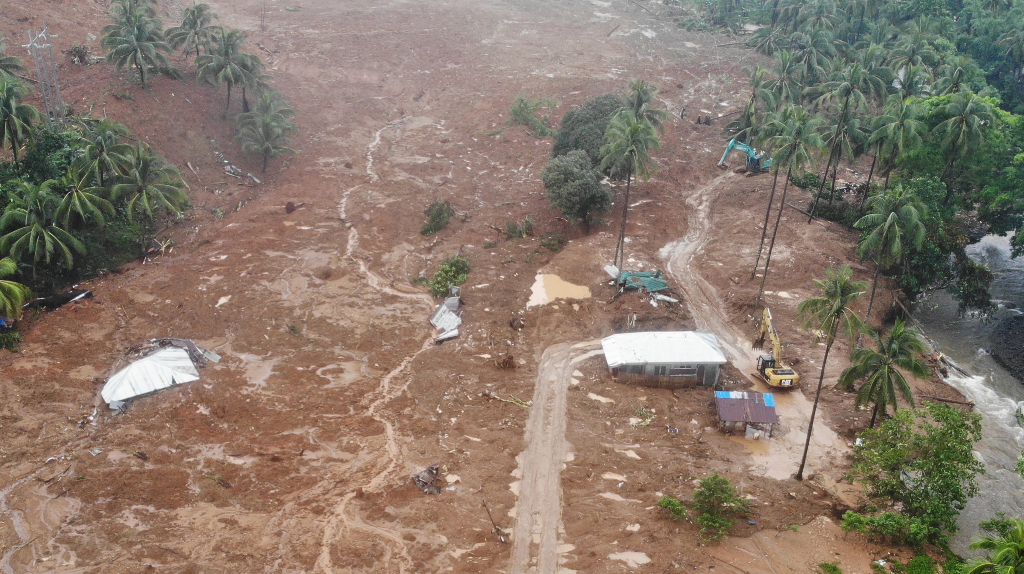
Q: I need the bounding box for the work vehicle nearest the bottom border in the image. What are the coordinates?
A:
[744,291,802,388]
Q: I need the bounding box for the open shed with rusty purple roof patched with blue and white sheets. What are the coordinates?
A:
[714,392,777,439]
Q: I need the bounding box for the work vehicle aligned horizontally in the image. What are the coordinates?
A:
[713,145,769,176]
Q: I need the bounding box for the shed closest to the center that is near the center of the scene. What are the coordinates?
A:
[430,286,465,342]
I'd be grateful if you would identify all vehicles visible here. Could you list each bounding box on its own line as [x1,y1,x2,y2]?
[713,145,769,176]
[744,291,802,388]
